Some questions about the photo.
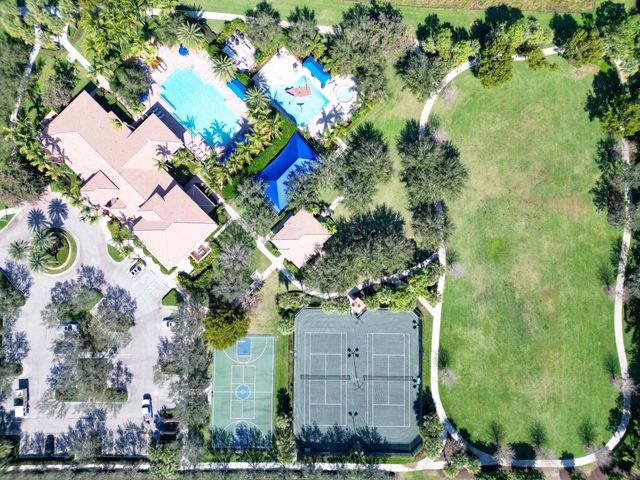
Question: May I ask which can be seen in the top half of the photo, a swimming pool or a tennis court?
swimming pool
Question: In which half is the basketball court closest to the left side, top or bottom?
bottom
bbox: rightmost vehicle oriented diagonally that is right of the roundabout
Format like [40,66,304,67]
[127,263,146,279]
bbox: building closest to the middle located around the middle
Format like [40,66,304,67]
[272,208,331,267]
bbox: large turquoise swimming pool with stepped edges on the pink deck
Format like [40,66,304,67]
[159,65,243,149]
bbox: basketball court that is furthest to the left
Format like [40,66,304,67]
[213,336,274,448]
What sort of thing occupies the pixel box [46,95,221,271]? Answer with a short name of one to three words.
building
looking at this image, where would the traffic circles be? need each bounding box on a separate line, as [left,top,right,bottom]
[32,229,79,276]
